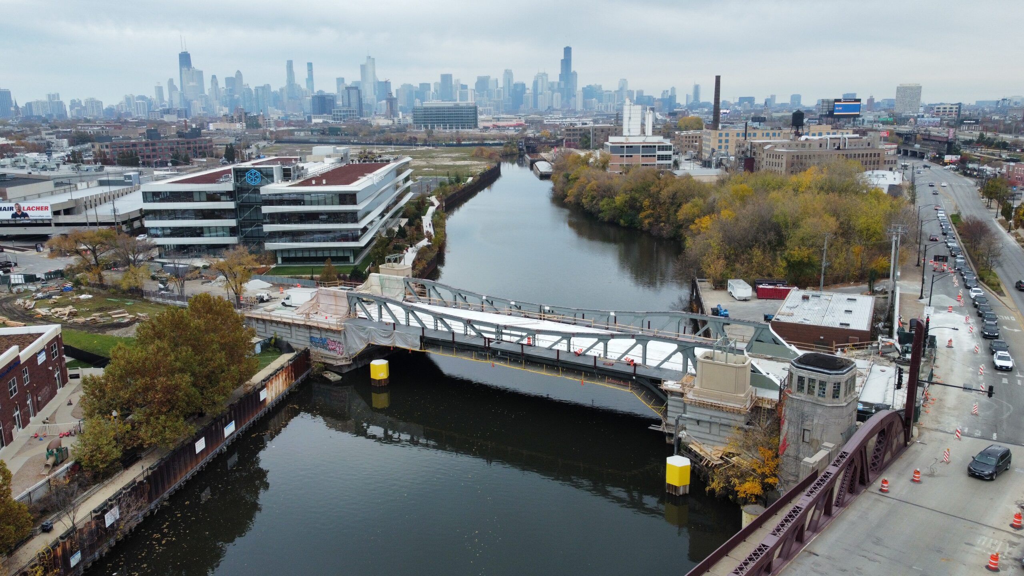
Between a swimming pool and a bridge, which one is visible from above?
bridge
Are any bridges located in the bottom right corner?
Yes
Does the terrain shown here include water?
Yes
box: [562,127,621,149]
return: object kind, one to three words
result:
building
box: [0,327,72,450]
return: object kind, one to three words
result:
building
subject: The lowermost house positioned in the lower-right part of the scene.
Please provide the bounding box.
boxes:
[782,344,878,498]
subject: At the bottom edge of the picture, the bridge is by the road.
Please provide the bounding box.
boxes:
[688,414,1024,576]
